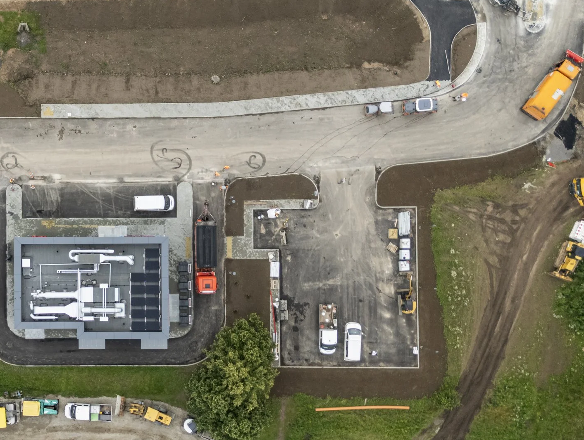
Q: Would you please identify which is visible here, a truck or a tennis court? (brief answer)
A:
truck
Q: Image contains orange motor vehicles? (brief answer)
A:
Yes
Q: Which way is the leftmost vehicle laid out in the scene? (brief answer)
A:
horizontally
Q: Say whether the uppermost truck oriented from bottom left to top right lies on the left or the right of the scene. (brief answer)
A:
right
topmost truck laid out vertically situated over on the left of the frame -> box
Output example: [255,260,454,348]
[193,195,219,295]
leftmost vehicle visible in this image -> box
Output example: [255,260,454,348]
[66,403,112,423]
